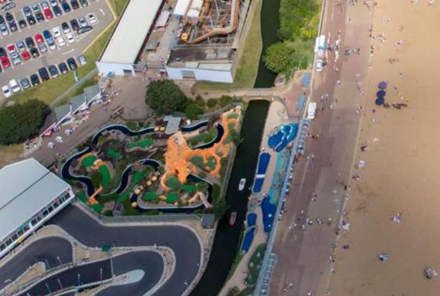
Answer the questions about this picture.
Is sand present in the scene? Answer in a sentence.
Yes, there is sand in the image.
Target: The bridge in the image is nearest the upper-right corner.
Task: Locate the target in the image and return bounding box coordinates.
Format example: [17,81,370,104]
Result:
[236,81,281,103]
